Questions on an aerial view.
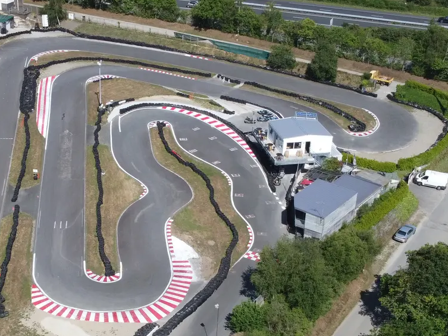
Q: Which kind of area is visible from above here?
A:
sports ground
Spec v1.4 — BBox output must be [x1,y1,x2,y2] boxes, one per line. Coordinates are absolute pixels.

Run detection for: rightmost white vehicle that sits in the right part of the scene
[411,169,448,188]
